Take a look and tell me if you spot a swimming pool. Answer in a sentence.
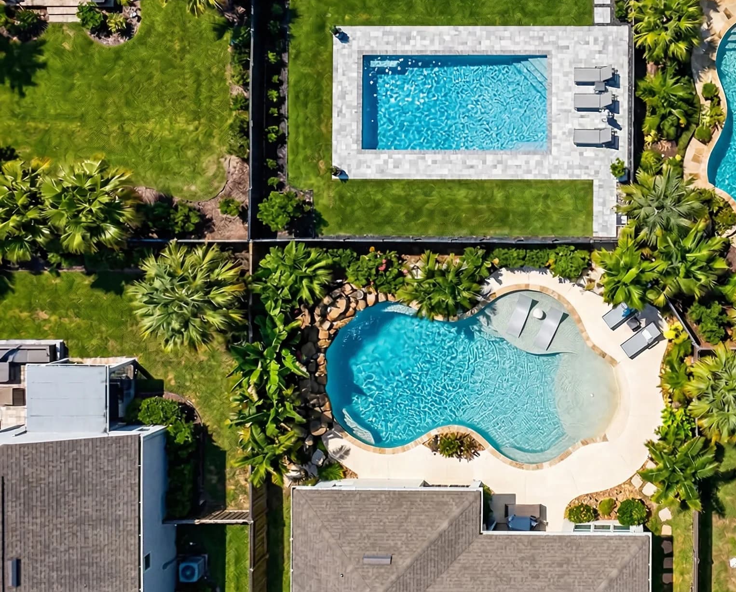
Yes, the image includes a swimming pool.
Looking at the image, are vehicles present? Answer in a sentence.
No, no vehicle is visible in the scene.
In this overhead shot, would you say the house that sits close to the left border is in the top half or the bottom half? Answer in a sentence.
It is in the bottom half that the house that sits close to the left border appears.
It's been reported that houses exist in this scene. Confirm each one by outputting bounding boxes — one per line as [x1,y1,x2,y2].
[291,478,653,592]
[0,426,166,592]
